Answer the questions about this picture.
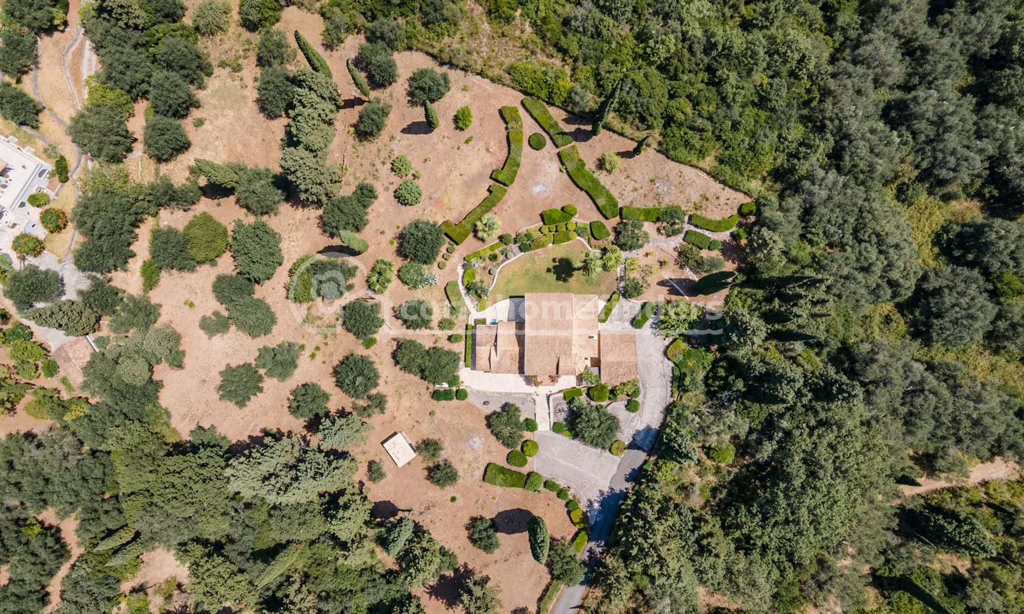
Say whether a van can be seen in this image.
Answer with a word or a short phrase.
No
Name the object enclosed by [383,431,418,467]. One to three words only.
shed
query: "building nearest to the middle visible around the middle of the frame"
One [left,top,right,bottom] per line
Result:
[476,293,600,386]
